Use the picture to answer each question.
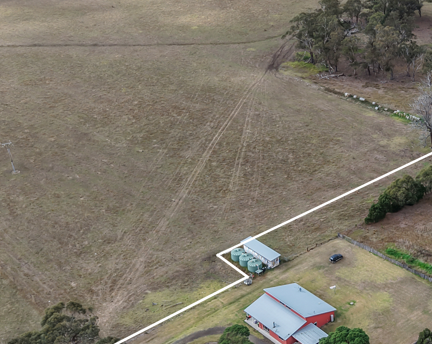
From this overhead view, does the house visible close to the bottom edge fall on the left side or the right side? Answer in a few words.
right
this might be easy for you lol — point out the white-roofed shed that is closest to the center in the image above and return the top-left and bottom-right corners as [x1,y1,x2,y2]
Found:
[241,237,282,267]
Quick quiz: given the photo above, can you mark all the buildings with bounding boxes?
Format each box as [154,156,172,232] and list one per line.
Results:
[241,237,282,267]
[244,280,337,344]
